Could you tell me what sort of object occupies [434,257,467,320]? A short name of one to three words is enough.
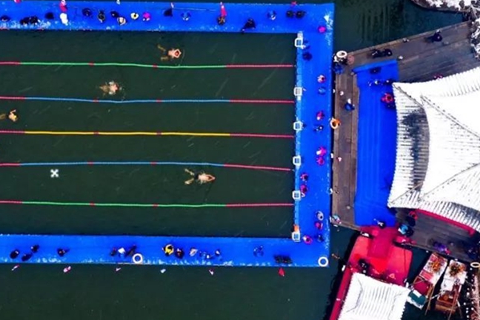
boat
